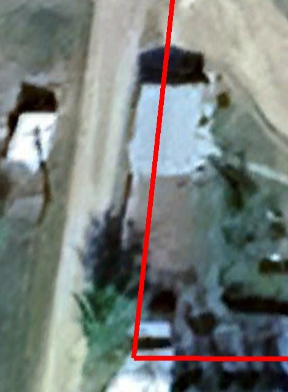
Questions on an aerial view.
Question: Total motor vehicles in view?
0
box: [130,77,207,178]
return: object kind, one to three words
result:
shed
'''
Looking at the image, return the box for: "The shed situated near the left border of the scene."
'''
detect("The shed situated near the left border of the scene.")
[7,105,56,173]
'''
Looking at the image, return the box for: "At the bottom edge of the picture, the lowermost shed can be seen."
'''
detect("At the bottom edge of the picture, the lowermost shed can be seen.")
[110,342,172,392]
